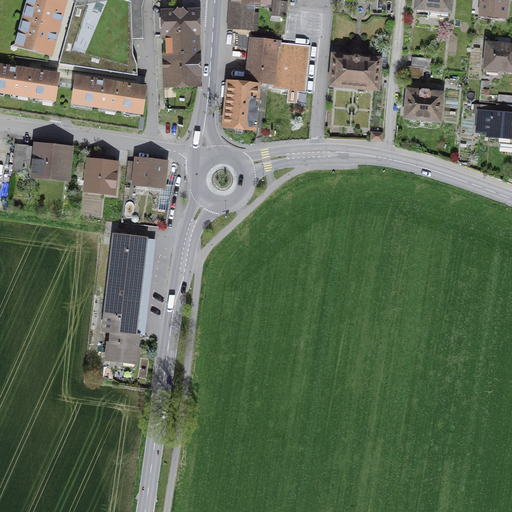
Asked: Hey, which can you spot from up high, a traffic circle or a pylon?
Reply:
traffic circle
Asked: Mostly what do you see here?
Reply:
grass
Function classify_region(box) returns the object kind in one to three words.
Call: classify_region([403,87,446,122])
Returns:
house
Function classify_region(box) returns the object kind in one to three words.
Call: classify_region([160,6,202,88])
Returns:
building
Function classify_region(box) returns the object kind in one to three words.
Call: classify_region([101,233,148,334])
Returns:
barn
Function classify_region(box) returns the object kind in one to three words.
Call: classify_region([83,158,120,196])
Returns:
house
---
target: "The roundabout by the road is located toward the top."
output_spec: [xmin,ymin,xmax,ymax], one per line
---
[174,144,257,214]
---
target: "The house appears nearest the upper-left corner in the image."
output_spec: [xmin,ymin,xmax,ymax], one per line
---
[14,0,69,57]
